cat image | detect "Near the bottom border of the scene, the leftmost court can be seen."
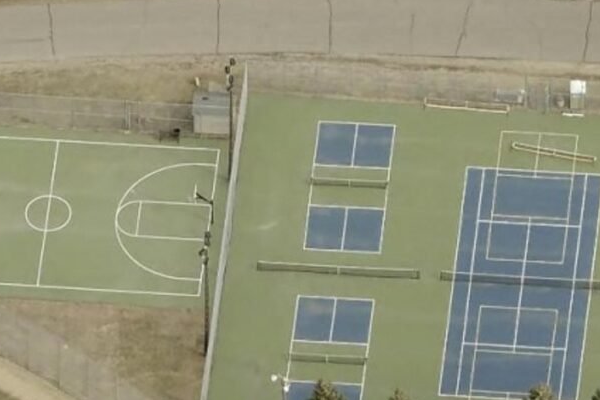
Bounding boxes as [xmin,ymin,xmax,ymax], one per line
[286,294,375,400]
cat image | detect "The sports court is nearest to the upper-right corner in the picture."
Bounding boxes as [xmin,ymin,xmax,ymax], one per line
[486,131,578,263]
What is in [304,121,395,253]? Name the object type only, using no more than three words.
sports court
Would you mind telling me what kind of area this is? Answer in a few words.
sports ground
